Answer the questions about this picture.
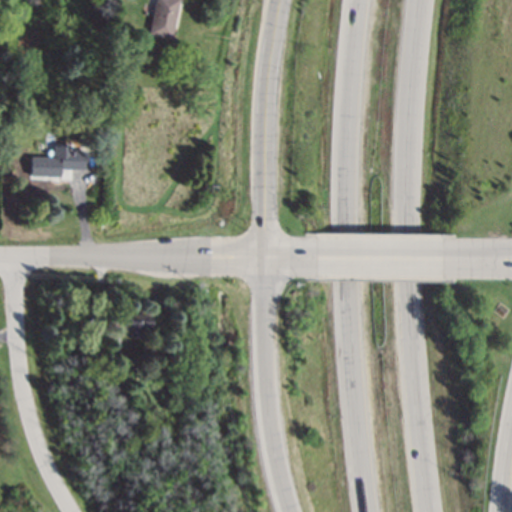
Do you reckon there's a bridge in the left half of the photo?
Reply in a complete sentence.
No, in the left half of the photo there is no bridge.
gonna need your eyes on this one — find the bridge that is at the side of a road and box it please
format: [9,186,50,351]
[306,234,455,281]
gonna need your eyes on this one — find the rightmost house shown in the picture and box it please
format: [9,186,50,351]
[152,0,186,36]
